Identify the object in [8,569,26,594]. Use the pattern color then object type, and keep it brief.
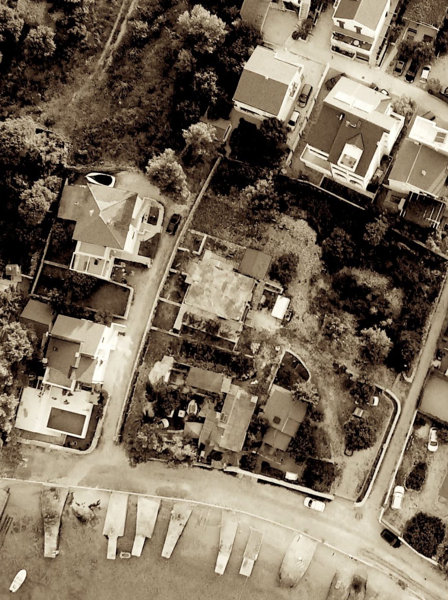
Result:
white boat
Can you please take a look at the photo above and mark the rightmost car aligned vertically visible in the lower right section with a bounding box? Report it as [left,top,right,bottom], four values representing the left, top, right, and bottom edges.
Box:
[427,426,440,453]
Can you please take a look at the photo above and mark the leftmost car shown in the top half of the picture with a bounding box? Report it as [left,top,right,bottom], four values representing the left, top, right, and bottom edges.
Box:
[166,212,183,238]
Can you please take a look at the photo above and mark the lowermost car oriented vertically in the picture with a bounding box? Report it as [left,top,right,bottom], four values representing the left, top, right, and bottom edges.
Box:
[392,484,406,512]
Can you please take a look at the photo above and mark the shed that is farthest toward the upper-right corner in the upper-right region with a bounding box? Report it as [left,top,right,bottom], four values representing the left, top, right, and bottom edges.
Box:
[403,0,448,33]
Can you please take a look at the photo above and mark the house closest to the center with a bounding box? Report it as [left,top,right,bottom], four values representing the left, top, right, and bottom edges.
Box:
[173,251,264,341]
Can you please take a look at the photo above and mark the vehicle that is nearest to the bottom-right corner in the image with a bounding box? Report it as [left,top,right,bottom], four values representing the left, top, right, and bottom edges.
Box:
[378,526,405,551]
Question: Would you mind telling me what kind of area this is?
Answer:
residential area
